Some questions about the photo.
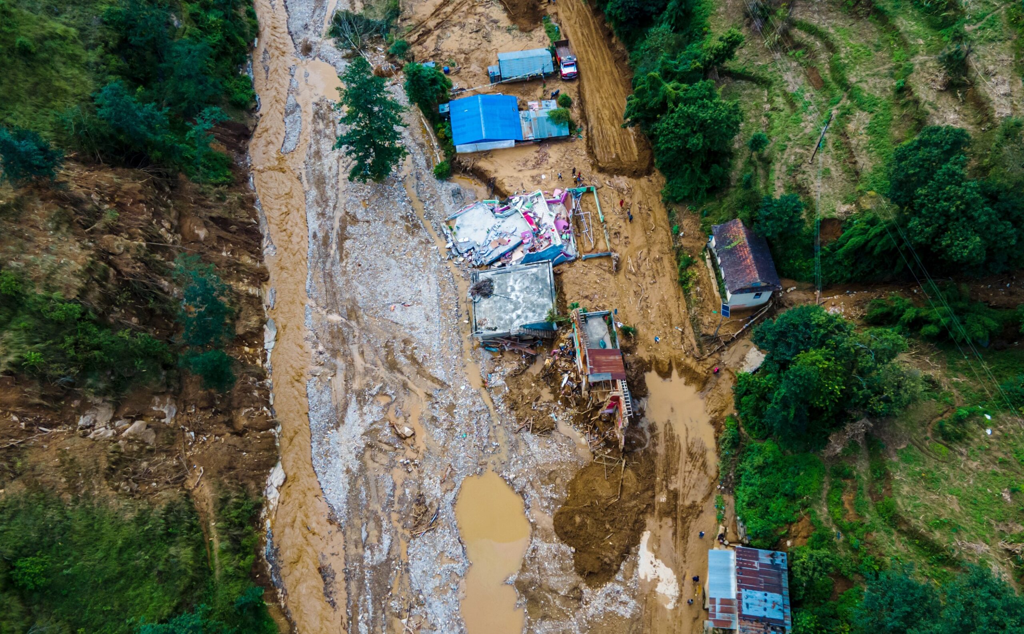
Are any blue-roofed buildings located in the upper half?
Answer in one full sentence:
Yes, in the upper half there is a blue-roofed building.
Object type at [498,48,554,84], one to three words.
shed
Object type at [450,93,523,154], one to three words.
house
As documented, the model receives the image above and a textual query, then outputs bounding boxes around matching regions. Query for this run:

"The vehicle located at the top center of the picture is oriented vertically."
[555,34,579,80]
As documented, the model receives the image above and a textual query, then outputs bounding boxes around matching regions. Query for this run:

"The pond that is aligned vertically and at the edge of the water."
[452,467,534,634]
